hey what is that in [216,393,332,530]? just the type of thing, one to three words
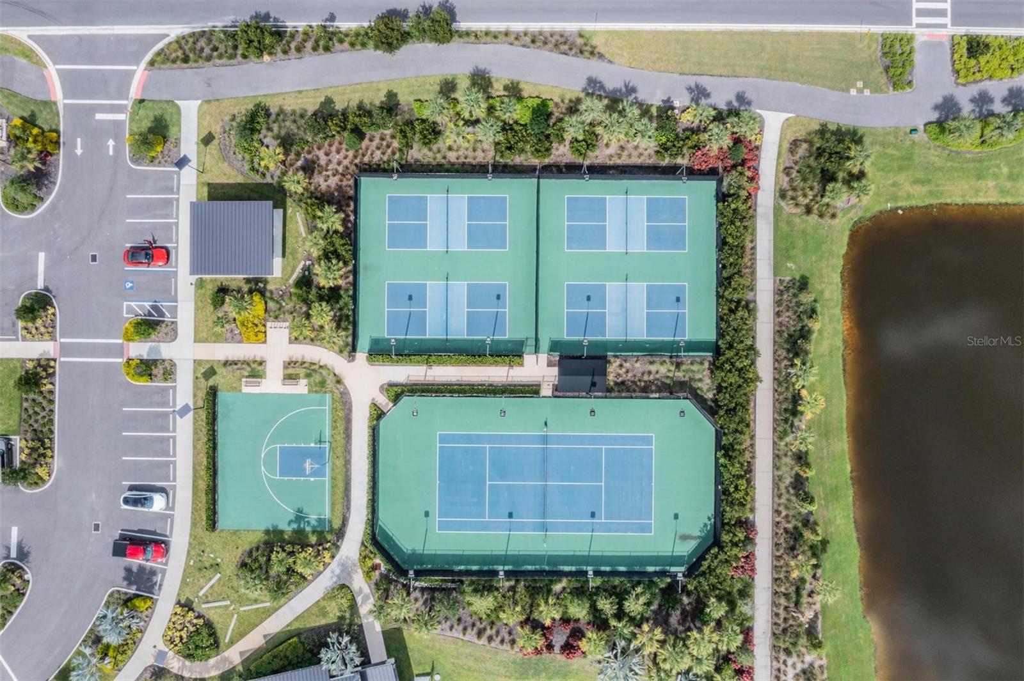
basketball court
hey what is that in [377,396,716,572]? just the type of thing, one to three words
tennis court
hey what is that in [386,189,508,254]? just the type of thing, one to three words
sports court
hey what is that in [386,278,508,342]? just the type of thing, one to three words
sports court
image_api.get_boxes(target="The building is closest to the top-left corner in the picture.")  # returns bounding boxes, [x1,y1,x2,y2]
[190,201,283,277]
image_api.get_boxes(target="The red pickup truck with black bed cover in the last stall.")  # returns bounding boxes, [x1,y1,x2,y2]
[108,541,167,567]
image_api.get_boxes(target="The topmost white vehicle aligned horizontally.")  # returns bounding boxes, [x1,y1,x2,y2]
[120,494,167,516]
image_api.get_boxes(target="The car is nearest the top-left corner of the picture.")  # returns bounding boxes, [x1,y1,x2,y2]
[122,240,169,268]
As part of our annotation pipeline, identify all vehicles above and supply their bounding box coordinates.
[122,240,169,268]
[108,541,167,567]
[0,442,12,488]
[120,494,167,516]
